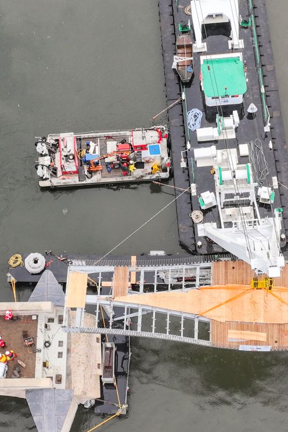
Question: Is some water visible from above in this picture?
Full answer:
Yes, some water is visible.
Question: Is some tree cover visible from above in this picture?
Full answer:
No, the scene doesn't show any tree cover.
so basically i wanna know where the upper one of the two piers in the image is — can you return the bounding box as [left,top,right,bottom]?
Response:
[9,252,230,285]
